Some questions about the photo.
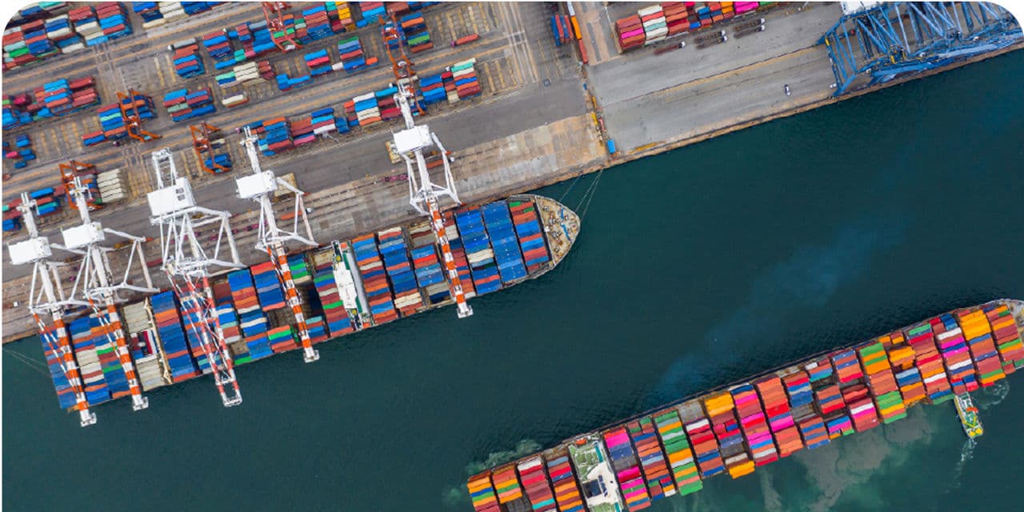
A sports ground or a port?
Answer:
port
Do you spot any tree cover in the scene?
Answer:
No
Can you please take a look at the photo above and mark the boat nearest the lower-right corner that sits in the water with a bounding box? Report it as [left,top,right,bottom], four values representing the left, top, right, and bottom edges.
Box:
[949,389,980,438]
